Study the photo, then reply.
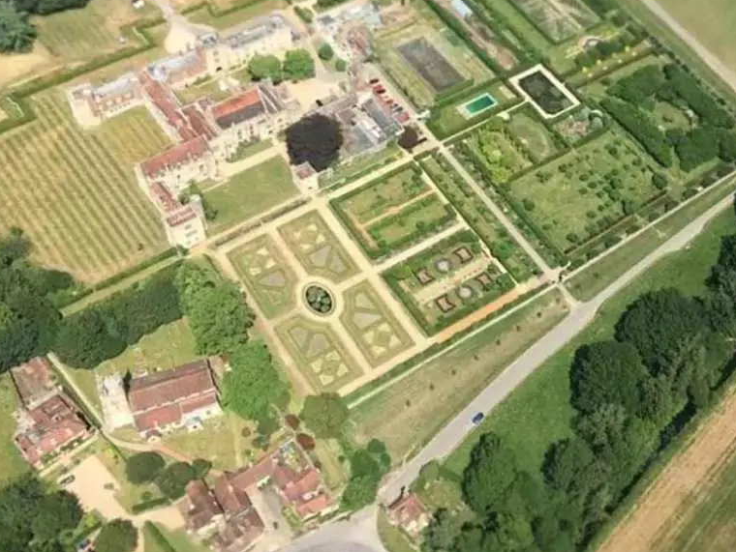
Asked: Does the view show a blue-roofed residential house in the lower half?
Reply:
No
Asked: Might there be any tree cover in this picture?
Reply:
Yes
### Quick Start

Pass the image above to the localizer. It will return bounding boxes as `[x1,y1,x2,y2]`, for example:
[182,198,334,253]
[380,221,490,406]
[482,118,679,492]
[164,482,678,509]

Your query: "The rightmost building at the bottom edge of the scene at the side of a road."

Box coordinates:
[380,482,421,533]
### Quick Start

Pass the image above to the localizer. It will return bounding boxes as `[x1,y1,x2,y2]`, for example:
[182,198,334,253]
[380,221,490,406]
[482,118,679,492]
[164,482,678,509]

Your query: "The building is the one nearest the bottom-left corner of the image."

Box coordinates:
[14,381,104,471]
